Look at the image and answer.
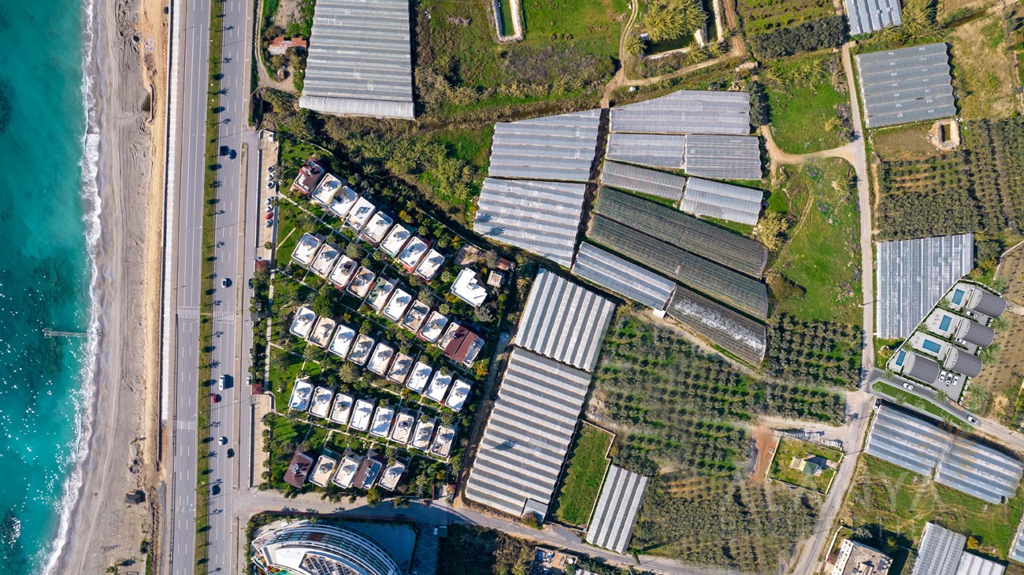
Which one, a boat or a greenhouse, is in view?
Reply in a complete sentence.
The image shows a greenhouse.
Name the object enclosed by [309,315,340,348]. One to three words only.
house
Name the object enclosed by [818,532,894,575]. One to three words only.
building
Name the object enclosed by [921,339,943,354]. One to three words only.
swimming pool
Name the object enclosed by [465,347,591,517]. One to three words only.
greenhouse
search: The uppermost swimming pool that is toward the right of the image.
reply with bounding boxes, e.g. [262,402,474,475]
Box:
[951,288,966,306]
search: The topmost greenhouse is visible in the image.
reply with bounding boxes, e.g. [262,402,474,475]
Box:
[844,0,902,37]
